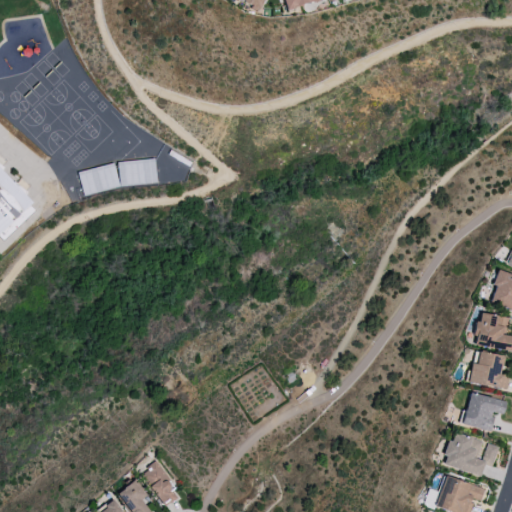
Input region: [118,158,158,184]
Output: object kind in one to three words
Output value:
building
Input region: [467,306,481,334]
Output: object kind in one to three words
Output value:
swimming pool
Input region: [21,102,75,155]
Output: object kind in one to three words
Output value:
basketball court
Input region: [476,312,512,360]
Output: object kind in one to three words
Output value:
house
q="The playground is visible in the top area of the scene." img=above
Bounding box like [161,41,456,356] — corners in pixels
[0,14,56,79]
